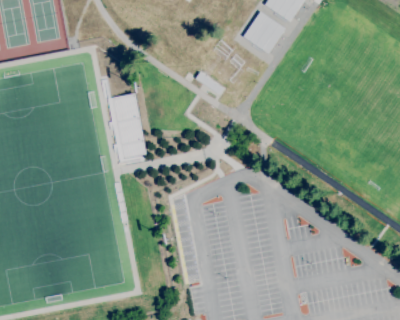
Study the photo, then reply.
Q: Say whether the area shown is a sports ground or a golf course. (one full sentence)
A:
This looks like a sports ground.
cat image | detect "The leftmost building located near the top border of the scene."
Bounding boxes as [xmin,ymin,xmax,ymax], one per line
[244,12,284,53]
